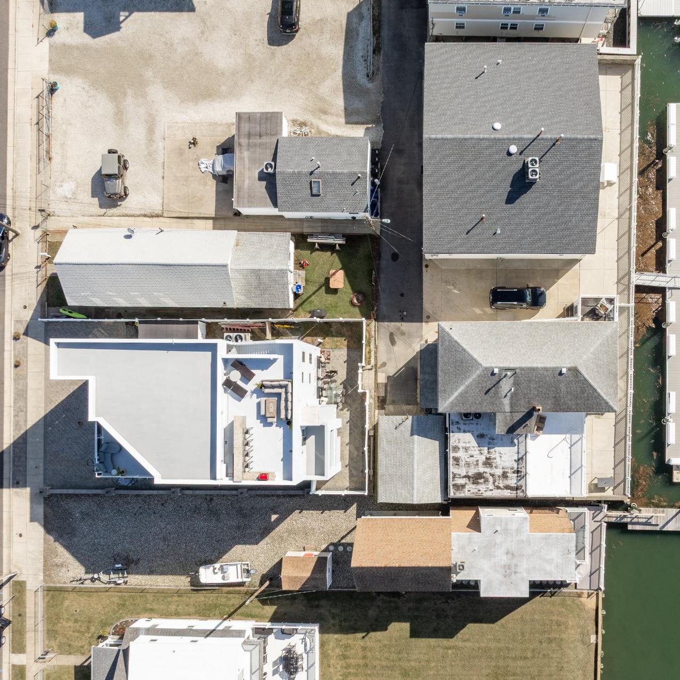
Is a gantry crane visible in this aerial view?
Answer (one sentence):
No, this view has no gantry crane in it.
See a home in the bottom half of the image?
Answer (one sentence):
Yes, you'll find a home in the bottom half of the image.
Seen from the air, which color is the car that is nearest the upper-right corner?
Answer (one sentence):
In this view, the car that is nearest the upper-right corner is black.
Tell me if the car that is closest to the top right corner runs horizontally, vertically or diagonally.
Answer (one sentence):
The car that is closest to the top right corner has been laid out horizontally relative to the frame.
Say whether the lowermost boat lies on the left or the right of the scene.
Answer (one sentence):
The lowermost boat sits on the left side.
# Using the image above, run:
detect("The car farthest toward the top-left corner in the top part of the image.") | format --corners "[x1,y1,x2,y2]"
[101,148,129,197]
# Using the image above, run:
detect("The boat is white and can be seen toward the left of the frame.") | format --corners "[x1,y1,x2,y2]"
[198,562,257,585]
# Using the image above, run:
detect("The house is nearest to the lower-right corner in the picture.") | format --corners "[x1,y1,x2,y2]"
[451,504,576,596]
